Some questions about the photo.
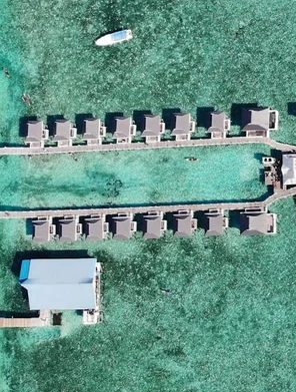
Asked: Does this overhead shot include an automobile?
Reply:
No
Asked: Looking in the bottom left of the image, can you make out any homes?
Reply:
Yes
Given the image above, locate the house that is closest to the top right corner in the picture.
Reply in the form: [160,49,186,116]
[241,106,278,137]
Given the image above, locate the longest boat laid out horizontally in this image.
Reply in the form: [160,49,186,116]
[94,29,135,44]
